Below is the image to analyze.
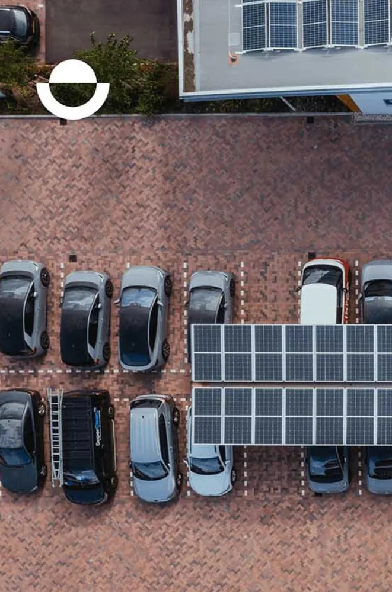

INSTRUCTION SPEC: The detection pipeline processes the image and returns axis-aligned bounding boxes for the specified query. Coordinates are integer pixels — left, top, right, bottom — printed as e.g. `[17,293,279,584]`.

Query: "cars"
[0,5,44,51]
[185,271,238,367]
[358,260,392,343]
[61,270,117,370]
[0,389,48,495]
[119,265,176,372]
[301,446,351,495]
[127,395,182,504]
[359,435,392,496]
[302,257,353,323]
[185,402,237,497]
[0,260,54,359]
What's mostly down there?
paved ground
